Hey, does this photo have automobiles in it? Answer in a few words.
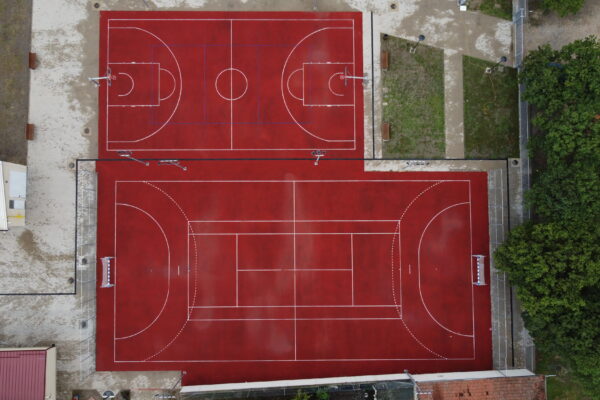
No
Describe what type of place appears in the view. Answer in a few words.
sports ground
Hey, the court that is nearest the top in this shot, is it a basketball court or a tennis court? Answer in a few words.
basketball court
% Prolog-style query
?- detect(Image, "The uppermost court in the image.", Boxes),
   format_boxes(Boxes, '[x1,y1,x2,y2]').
[98,11,364,159]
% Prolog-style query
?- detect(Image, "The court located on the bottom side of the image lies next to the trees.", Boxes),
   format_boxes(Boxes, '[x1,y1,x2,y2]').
[96,160,492,387]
